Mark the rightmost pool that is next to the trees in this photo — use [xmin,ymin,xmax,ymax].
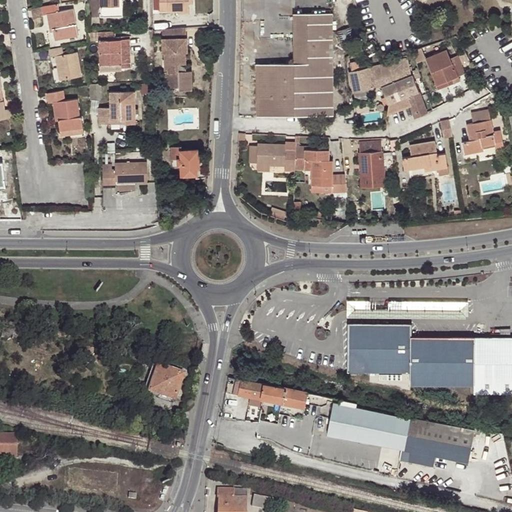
[482,178,504,194]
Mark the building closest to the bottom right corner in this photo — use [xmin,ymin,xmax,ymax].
[401,422,474,468]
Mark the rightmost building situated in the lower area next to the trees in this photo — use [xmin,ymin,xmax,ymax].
[474,338,512,394]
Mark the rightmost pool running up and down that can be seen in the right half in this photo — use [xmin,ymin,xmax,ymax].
[442,181,456,206]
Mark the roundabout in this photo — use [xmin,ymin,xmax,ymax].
[172,210,265,303]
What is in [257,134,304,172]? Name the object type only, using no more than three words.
house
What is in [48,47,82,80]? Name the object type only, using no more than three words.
house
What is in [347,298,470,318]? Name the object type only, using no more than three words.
building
